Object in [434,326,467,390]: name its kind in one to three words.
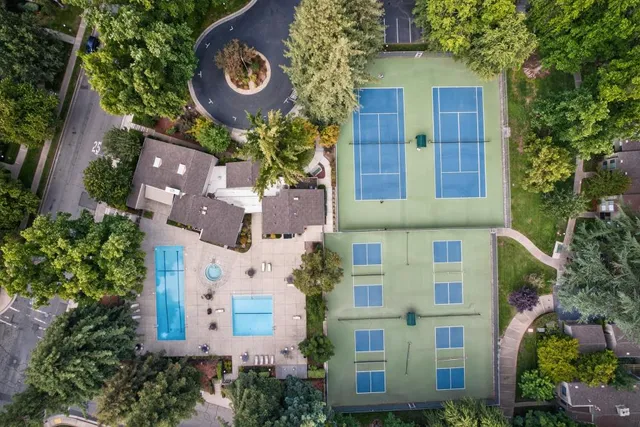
sports court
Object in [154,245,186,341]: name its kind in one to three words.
swimming pool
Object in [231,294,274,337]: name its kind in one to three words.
swimming pool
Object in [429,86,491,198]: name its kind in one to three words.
tennis court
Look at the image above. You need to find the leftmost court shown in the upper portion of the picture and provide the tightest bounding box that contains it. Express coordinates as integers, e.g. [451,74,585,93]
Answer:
[349,87,411,201]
